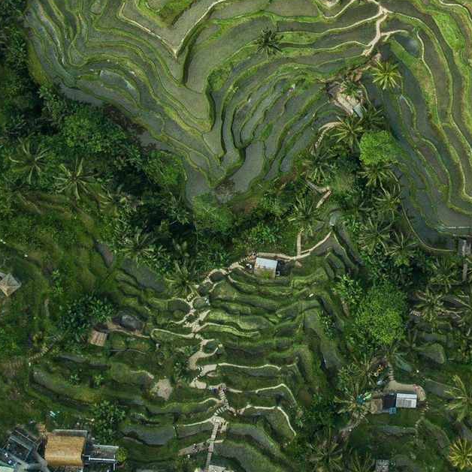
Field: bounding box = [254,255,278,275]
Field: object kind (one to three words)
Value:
shed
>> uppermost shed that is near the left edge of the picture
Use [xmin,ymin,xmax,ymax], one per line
[0,270,27,298]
